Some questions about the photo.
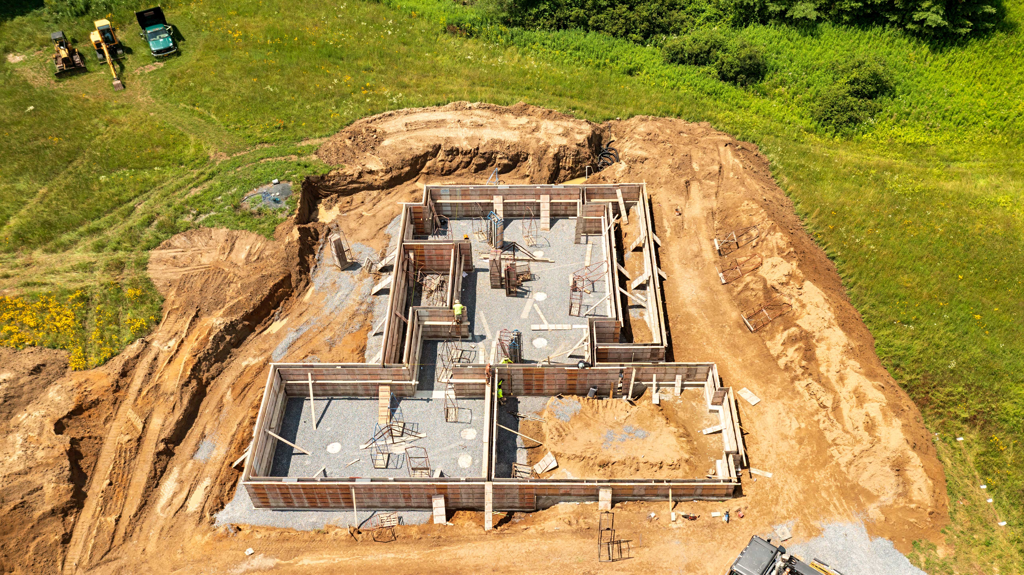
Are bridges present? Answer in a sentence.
No, no bridge is visible in the scene.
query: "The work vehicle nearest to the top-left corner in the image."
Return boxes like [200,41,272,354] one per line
[51,32,88,78]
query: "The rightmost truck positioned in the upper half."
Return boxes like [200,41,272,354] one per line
[132,0,176,56]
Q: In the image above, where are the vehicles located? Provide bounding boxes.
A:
[732,530,875,575]
[89,18,126,87]
[132,0,176,56]
[51,32,88,78]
